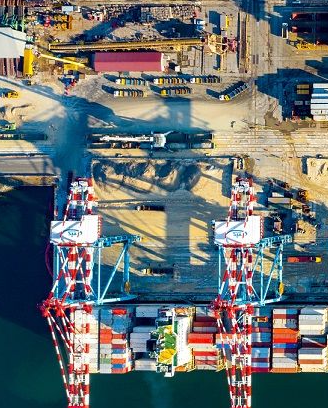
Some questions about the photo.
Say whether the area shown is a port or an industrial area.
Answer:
port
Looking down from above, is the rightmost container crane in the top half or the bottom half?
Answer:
bottom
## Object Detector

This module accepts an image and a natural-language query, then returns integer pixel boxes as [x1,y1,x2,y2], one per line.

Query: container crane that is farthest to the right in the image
[213,184,298,408]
